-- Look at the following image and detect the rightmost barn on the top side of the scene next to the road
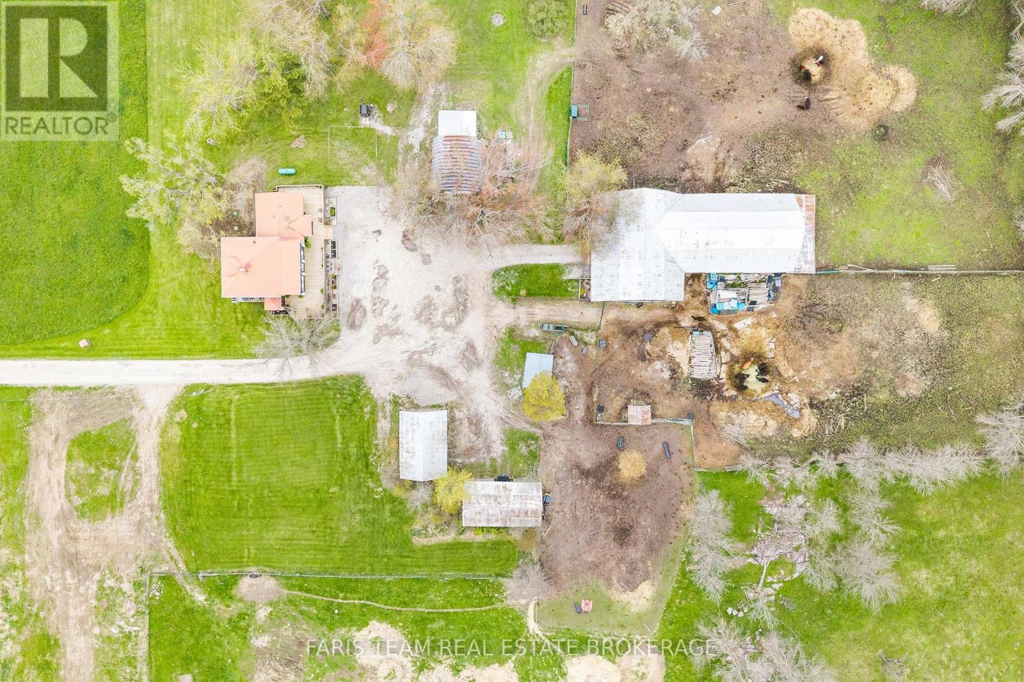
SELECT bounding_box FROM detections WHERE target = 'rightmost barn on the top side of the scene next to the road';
[589,188,816,303]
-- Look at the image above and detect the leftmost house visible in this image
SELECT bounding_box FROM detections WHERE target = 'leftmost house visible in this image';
[221,191,315,311]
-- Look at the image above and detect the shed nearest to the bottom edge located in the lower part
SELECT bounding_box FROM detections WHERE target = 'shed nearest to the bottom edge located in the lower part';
[462,481,543,527]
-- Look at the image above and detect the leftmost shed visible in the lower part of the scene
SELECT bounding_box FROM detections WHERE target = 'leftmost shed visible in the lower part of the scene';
[399,411,447,483]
